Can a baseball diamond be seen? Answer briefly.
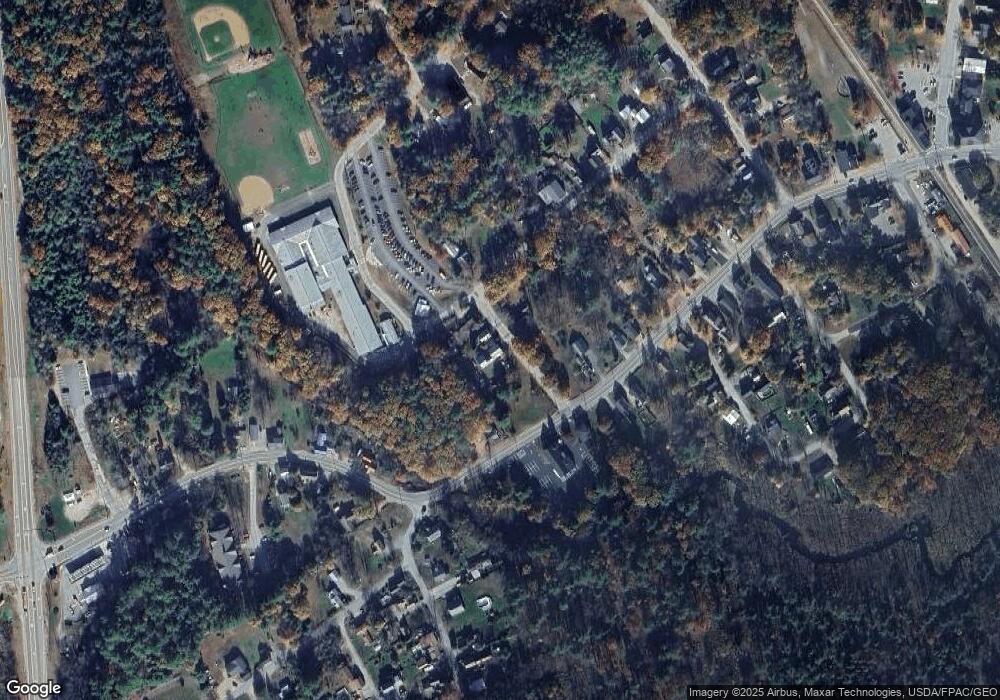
Yes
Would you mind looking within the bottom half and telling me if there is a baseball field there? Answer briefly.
No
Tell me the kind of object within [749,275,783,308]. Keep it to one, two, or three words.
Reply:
house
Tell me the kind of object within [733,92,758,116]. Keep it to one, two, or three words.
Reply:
house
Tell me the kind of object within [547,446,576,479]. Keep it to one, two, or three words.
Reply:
building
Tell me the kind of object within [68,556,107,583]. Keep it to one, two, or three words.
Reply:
building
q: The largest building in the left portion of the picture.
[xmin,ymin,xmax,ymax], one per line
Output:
[269,205,392,357]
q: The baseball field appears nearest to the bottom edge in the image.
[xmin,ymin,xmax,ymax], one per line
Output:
[213,61,333,214]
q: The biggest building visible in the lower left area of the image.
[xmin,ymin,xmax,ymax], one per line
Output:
[208,527,243,578]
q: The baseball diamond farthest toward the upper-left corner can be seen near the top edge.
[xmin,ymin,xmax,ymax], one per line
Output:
[185,0,284,72]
